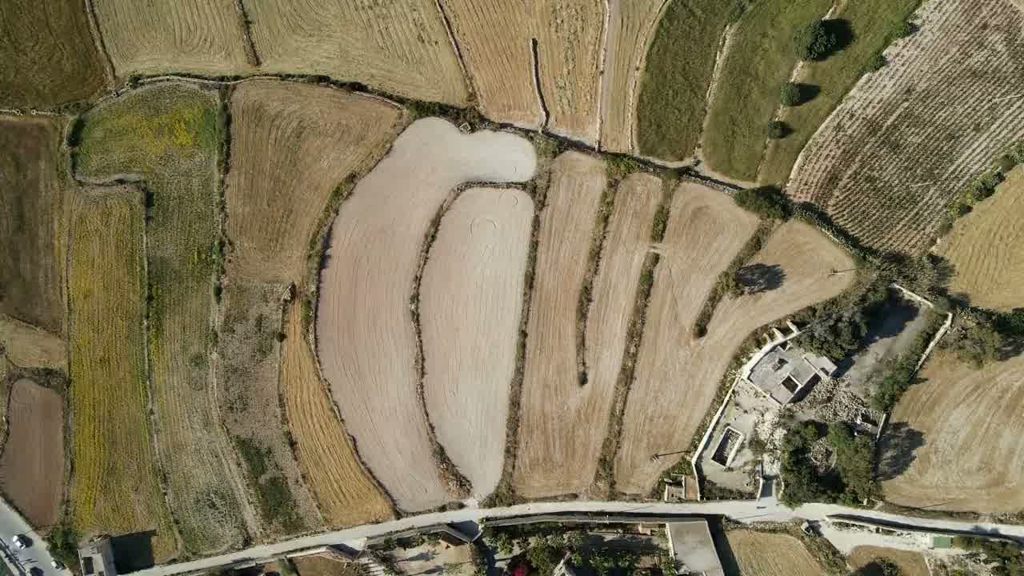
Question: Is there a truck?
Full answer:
No, there is no truck in the image.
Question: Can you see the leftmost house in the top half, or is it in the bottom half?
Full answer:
It is in the bottom half that the leftmost house appears.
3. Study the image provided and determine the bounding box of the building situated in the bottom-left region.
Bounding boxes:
[75,534,123,576]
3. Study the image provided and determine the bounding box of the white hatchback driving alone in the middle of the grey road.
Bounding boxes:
[11,534,28,551]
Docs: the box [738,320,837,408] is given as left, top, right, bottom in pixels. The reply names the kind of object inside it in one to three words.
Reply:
house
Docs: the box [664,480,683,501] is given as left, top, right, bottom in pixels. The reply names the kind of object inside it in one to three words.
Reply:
shed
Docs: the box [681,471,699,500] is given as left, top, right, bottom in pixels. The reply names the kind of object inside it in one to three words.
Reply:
shed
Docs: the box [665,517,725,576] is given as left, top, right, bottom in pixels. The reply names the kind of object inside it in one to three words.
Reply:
building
